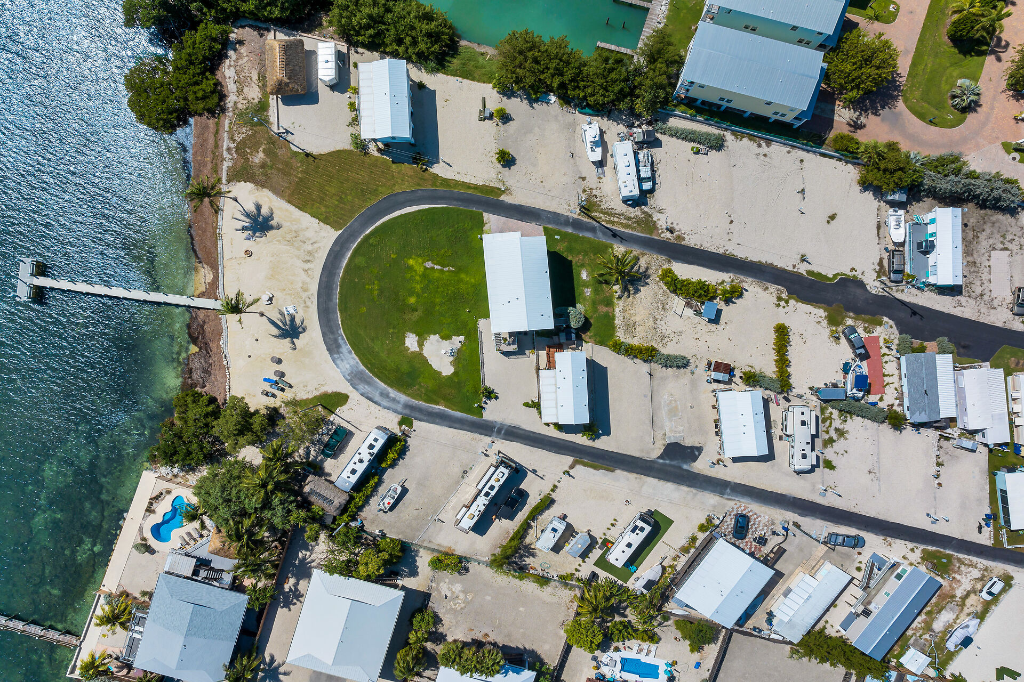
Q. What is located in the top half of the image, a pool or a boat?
boat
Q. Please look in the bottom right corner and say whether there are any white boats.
Yes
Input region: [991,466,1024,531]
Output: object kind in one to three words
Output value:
house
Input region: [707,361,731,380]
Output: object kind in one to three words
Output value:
shed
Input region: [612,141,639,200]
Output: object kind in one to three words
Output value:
trailer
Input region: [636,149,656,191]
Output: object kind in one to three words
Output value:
vehicle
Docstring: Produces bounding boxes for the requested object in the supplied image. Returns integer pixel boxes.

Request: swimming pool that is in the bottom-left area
[141,487,214,553]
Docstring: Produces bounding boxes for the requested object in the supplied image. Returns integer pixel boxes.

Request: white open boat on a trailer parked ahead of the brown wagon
[885,204,906,243]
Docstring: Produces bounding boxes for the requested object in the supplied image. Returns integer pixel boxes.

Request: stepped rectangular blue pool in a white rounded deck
[601,650,671,682]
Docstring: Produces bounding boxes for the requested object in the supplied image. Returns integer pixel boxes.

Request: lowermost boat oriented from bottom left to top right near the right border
[938,620,980,655]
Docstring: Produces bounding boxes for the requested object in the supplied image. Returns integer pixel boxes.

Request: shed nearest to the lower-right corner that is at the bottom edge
[892,639,930,675]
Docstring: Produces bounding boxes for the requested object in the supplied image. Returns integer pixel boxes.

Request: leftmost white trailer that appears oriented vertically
[318,43,340,95]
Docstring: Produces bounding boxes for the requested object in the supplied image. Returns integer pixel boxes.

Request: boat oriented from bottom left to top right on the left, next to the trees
[375,485,400,516]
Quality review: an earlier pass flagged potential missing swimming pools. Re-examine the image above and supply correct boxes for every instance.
[601,650,671,682]
[141,487,214,553]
